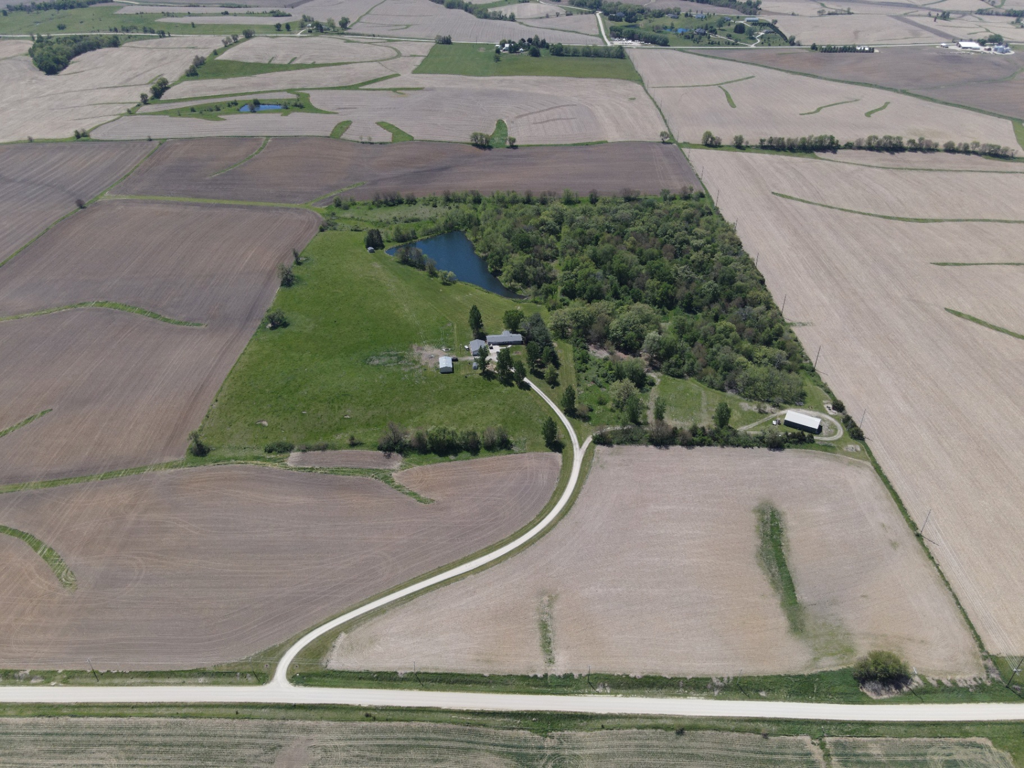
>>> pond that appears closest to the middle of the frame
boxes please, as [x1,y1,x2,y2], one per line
[386,231,527,299]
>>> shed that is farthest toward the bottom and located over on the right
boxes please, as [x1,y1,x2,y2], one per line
[784,409,823,434]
